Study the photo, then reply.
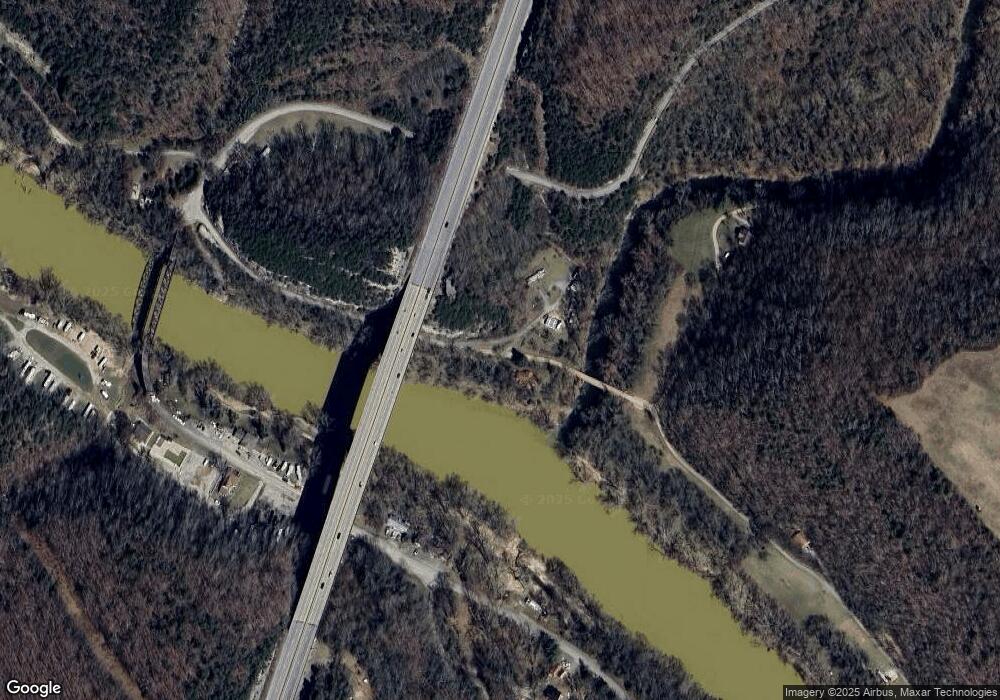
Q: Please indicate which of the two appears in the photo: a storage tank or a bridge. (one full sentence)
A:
Looking from above, you can make out a bridge.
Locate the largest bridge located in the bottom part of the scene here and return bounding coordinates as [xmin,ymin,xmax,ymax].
[293,280,435,626]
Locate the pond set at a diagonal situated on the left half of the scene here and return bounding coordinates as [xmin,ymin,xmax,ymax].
[26,329,93,388]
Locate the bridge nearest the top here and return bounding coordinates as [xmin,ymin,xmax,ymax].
[146,229,181,348]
